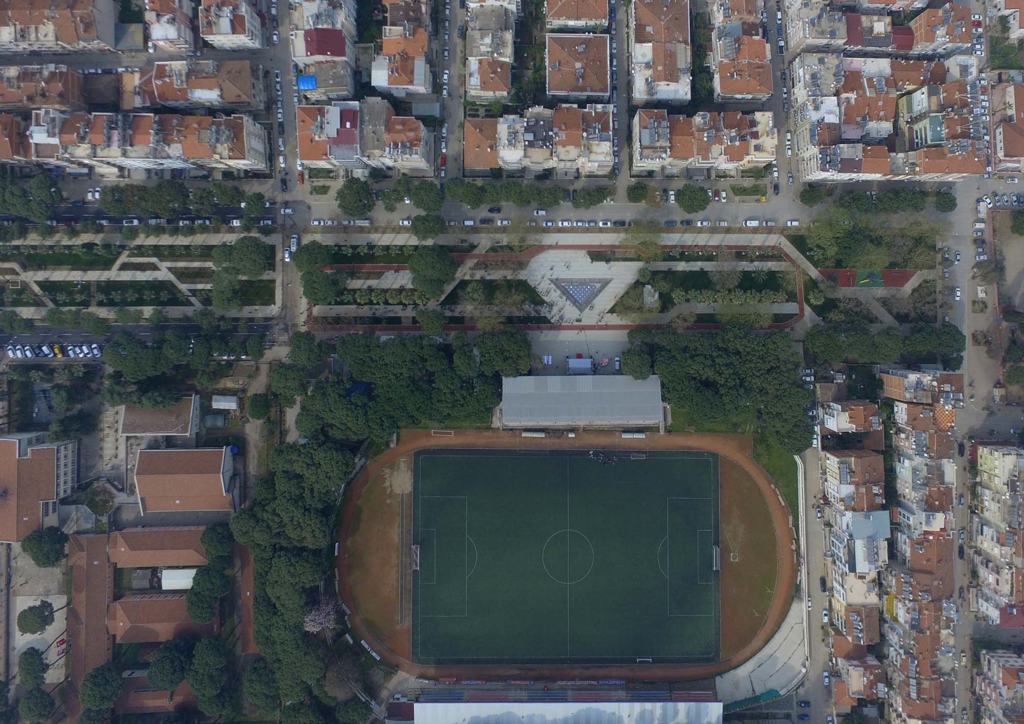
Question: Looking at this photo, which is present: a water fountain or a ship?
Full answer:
This aerial view contains a water fountain.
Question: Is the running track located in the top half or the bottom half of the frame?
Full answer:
You can find the running track in the bottom half.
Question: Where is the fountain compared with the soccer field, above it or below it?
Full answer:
Looking at the photo, you'll find the fountain above the soccer field.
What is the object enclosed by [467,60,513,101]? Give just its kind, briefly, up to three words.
house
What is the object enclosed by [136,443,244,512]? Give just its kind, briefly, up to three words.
building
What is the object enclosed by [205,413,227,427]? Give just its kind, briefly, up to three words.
shed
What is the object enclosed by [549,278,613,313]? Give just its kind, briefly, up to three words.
fountain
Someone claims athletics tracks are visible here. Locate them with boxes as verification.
[336,431,797,680]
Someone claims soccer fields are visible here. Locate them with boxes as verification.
[413,450,719,664]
